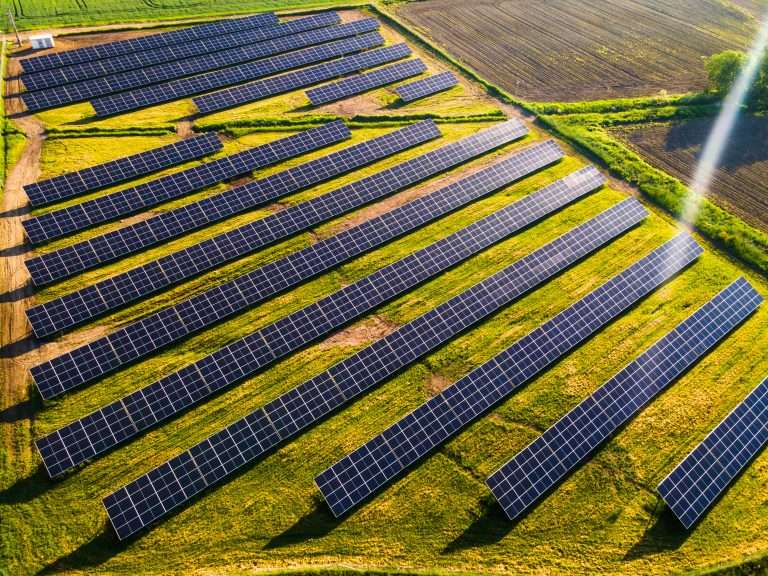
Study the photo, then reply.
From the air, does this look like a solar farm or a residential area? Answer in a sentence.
The area seen from above is a solar farm.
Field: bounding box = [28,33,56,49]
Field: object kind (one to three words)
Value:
shed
